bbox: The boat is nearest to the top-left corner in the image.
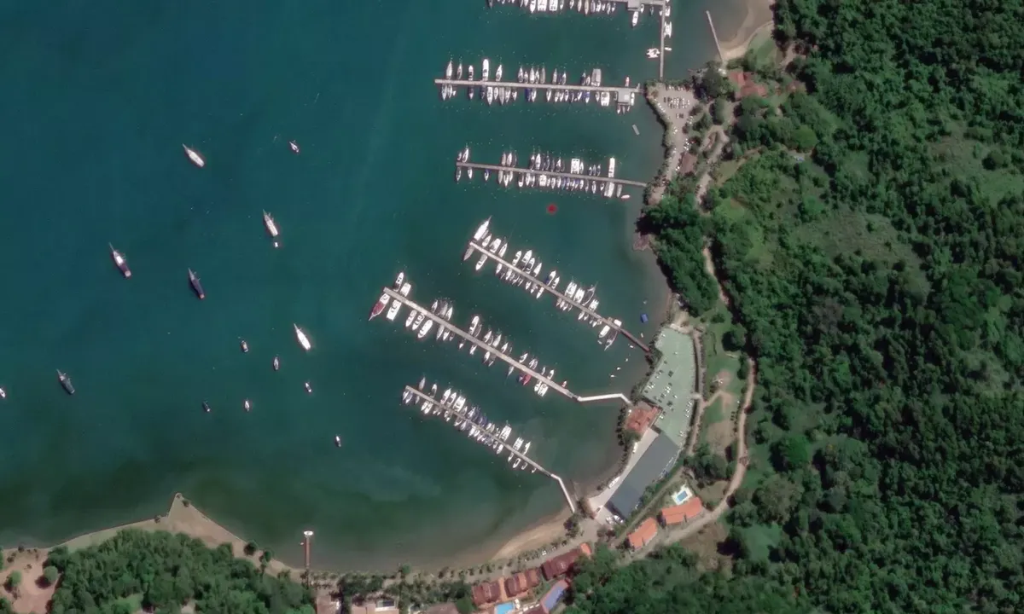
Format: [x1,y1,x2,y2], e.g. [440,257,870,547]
[183,144,204,166]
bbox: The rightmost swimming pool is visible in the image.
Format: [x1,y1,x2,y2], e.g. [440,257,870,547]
[672,484,692,504]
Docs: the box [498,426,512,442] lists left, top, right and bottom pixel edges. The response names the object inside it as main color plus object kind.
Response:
white boat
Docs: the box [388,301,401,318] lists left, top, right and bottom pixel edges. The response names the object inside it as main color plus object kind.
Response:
white boat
